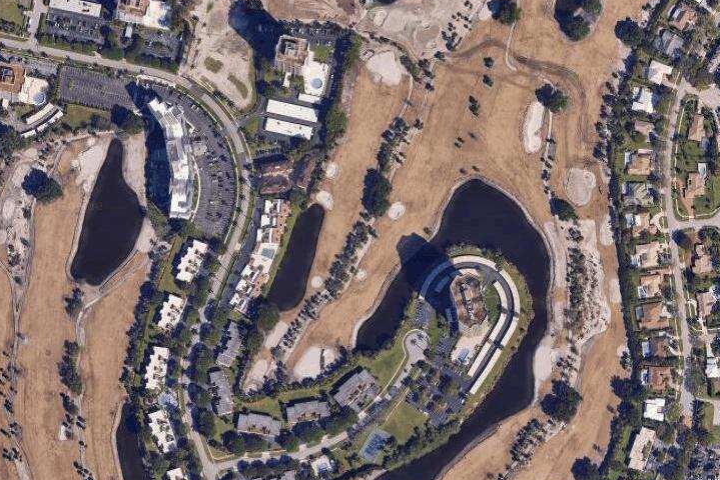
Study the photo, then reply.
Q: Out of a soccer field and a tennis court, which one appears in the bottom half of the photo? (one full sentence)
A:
You can see a tennis court in the bottom half of the photo.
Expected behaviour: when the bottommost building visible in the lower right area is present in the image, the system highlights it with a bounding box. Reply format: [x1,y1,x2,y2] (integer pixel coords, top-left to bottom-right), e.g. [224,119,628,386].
[629,427,656,472]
